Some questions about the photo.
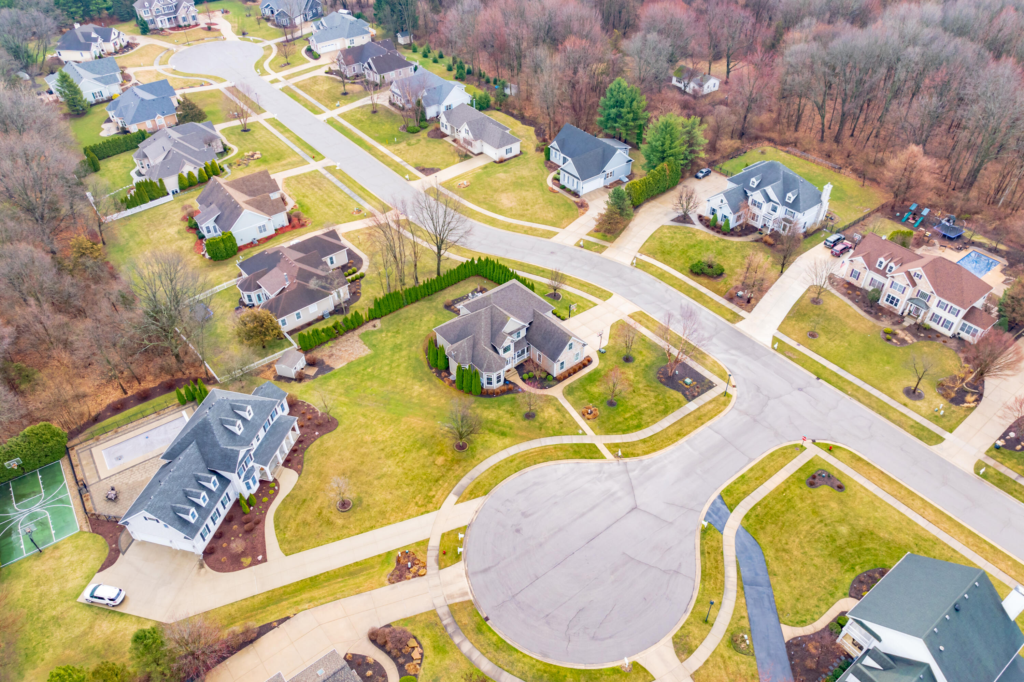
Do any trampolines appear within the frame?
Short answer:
Yes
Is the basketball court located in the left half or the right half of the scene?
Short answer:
left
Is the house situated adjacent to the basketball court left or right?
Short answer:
left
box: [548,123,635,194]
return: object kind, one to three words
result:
house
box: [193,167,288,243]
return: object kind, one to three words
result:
house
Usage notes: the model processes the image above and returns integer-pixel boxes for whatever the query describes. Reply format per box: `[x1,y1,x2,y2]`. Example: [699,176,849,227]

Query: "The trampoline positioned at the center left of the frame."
[188,304,216,325]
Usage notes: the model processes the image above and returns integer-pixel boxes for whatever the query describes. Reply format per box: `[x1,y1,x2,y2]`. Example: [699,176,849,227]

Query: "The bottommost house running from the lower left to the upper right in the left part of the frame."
[116,378,301,554]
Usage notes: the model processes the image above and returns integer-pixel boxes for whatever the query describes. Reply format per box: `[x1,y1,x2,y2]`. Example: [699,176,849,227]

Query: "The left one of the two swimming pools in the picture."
[101,416,186,469]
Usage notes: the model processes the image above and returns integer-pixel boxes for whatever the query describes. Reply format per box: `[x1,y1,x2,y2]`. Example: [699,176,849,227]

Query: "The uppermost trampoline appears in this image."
[932,215,968,242]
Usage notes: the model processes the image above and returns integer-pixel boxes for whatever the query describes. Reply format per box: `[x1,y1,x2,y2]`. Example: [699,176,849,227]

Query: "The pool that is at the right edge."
[957,250,1001,278]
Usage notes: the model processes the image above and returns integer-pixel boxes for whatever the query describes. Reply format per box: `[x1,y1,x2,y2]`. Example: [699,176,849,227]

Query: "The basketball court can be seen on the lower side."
[0,465,81,568]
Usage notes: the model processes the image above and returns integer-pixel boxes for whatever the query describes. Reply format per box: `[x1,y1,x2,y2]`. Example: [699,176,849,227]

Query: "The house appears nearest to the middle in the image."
[432,278,589,386]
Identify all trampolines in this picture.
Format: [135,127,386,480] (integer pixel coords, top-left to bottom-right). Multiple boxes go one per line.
[188,304,216,325]
[932,215,968,242]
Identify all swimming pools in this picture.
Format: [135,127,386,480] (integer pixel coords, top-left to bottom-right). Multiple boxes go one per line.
[957,250,1001,278]
[101,416,186,469]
